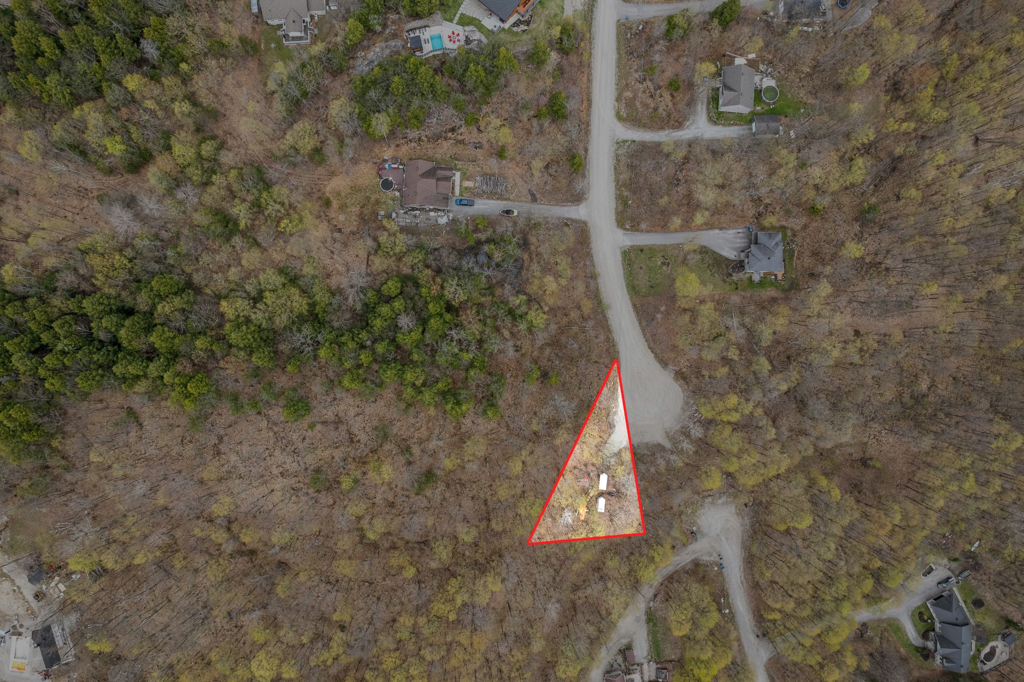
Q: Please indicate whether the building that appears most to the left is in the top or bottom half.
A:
bottom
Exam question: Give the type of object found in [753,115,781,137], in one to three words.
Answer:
building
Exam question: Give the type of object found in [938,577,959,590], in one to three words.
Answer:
vehicle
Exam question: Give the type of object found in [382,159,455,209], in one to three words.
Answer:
house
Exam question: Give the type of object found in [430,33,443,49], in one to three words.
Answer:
swimming pool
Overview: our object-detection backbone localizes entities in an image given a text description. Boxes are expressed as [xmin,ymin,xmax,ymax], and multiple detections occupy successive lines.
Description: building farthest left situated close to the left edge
[29,624,66,667]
